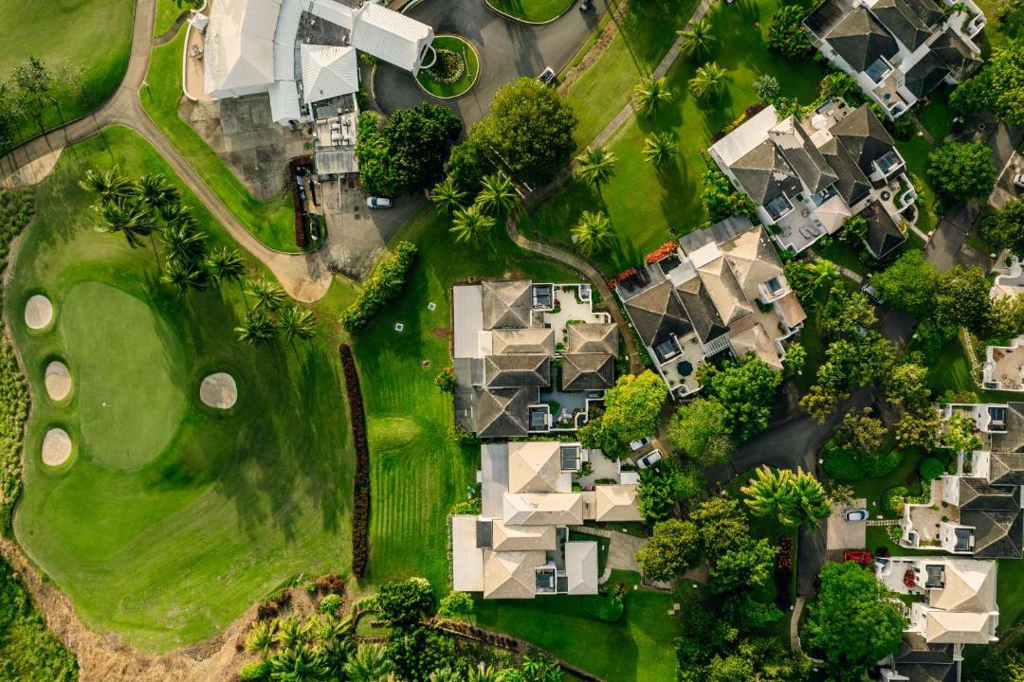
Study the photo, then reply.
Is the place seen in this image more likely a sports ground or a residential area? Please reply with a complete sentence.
It's a residential area.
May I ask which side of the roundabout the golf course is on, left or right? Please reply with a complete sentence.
To the left of the roundabout is where the golf course appears.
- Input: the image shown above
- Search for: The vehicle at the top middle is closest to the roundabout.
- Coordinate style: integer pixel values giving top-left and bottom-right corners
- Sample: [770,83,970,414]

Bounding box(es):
[545,66,558,79]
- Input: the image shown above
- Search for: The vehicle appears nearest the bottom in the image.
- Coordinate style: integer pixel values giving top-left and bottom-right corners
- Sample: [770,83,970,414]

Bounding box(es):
[843,550,869,563]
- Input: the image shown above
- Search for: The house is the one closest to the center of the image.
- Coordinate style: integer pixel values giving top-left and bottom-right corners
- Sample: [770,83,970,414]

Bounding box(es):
[453,280,619,438]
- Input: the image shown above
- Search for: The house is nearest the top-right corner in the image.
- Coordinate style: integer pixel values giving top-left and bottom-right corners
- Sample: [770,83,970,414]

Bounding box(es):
[806,0,988,125]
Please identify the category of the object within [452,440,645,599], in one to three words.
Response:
house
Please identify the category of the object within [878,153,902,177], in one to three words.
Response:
solar panel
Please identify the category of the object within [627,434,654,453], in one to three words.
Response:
vehicle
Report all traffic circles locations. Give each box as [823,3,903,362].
[395,14,499,116]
